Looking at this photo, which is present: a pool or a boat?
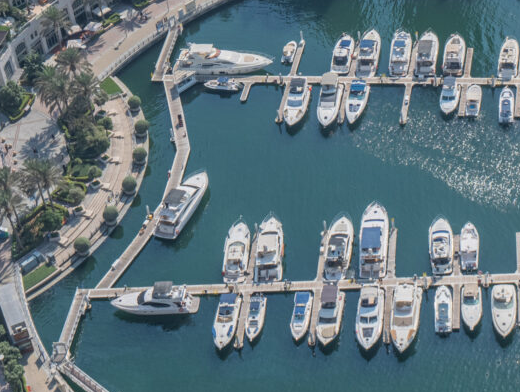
boat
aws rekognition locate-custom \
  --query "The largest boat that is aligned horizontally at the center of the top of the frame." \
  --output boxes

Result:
[170,43,273,79]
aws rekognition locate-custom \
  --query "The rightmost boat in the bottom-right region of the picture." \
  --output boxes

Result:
[490,285,518,339]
